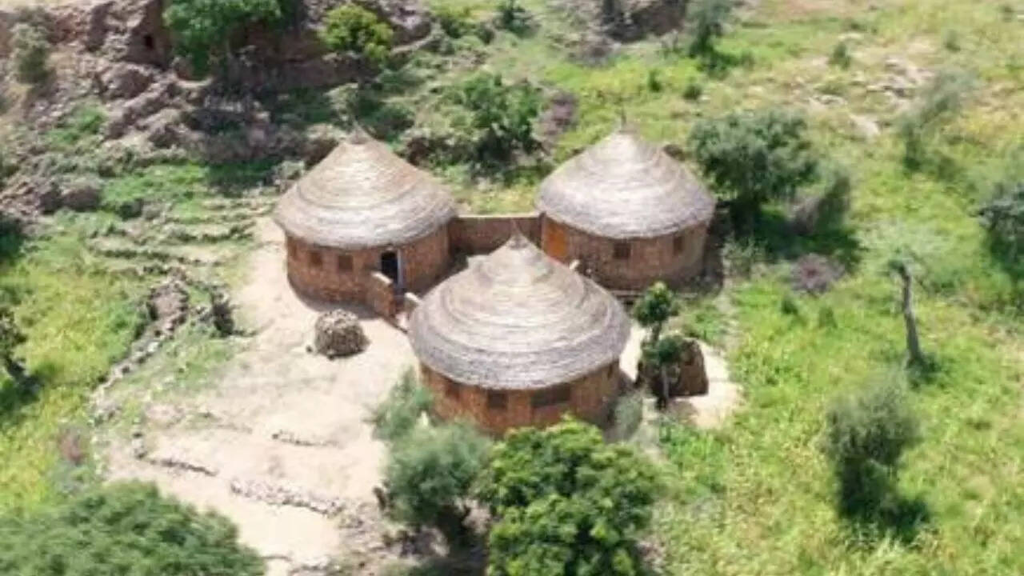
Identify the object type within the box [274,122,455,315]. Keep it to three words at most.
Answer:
shed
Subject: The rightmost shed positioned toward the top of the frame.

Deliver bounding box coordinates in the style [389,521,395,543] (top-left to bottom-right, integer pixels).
[539,106,714,297]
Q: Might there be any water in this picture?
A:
No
